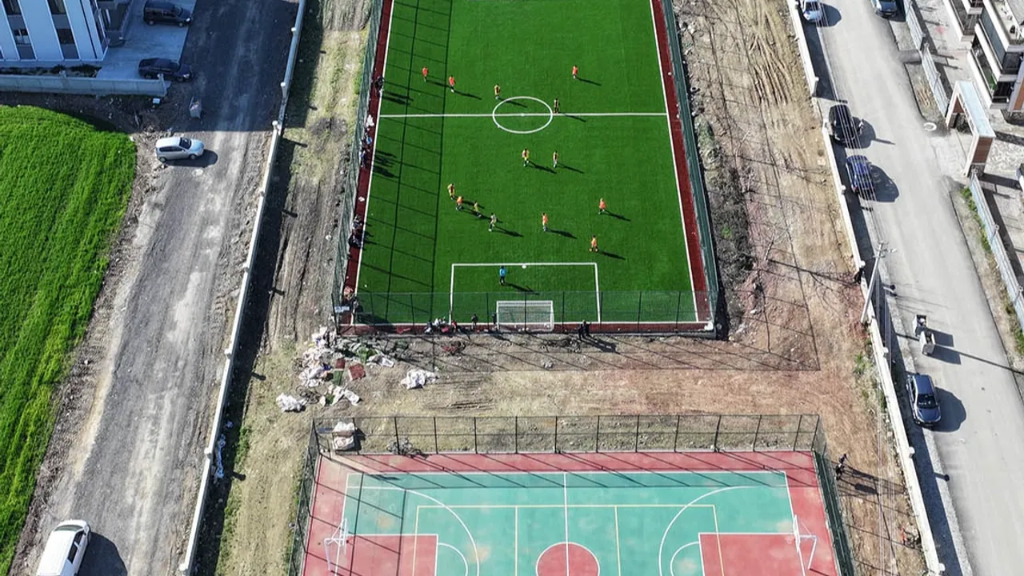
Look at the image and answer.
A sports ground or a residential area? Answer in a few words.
sports ground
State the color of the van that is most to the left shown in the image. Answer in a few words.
white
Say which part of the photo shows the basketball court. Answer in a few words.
bottom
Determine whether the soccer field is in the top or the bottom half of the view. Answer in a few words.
top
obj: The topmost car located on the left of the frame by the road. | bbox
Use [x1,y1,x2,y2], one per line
[141,0,194,25]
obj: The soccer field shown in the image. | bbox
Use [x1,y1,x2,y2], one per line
[334,0,716,338]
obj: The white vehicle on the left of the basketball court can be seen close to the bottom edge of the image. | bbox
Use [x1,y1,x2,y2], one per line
[33,519,91,576]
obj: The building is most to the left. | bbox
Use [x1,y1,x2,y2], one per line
[0,0,139,65]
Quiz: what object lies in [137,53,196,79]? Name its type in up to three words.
car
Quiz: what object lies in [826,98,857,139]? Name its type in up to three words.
car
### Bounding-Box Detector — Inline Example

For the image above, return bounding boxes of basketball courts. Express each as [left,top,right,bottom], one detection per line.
[303,450,840,576]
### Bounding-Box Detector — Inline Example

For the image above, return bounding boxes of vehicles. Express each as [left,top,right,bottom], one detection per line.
[137,53,196,79]
[141,0,194,25]
[33,519,91,576]
[826,98,857,139]
[797,0,822,20]
[847,160,879,196]
[901,364,943,422]
[154,132,205,159]
[874,0,899,16]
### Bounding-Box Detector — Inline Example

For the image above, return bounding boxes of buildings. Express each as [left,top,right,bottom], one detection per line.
[938,0,1024,118]
[0,0,139,65]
